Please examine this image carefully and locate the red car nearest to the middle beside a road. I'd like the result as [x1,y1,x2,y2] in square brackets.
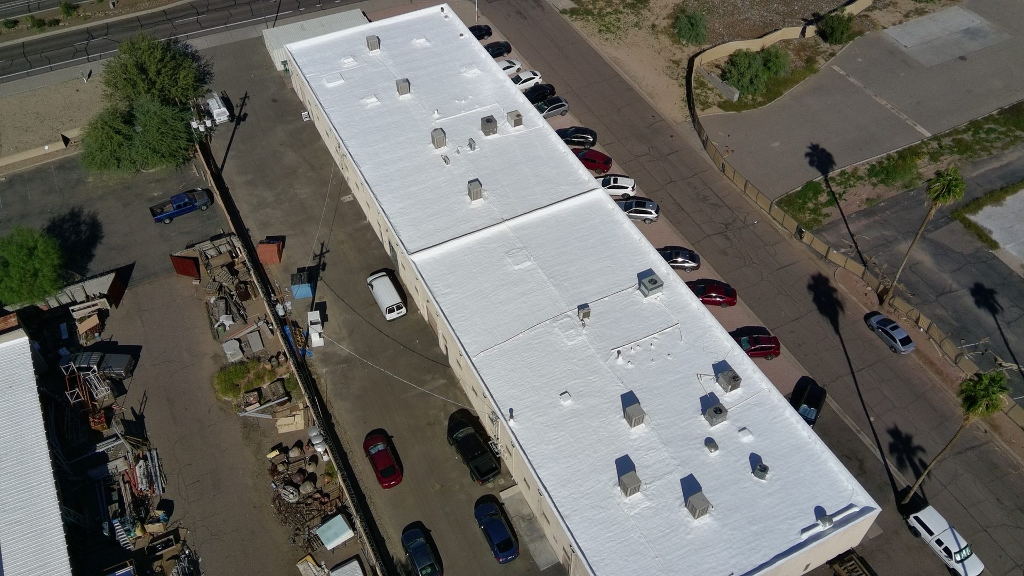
[573,148,614,172]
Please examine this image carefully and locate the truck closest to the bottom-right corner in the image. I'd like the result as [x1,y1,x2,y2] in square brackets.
[905,507,994,576]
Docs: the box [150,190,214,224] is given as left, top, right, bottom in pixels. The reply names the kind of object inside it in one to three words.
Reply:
truck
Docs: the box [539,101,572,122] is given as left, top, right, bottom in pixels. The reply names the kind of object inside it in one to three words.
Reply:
car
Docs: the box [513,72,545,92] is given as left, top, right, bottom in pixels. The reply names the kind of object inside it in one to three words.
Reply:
car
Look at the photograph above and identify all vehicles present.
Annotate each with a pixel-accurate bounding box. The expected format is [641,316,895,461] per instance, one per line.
[619,200,660,225]
[795,382,827,431]
[539,101,572,122]
[905,507,994,576]
[206,88,231,125]
[365,270,409,324]
[64,349,134,383]
[150,190,214,224]
[499,61,524,76]
[476,500,518,566]
[558,128,597,149]
[731,331,782,360]
[525,86,558,106]
[690,282,738,309]
[365,433,404,491]
[405,527,445,576]
[573,148,614,172]
[450,416,503,489]
[513,72,545,92]
[865,311,919,356]
[599,177,636,201]
[660,248,701,274]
